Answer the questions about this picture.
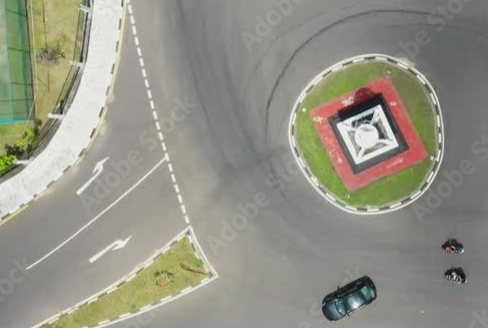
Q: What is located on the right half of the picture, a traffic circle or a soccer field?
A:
traffic circle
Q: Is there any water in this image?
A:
No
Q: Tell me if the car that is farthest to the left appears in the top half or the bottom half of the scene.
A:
bottom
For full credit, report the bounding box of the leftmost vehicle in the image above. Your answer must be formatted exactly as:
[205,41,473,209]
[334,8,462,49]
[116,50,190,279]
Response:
[322,278,377,318]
